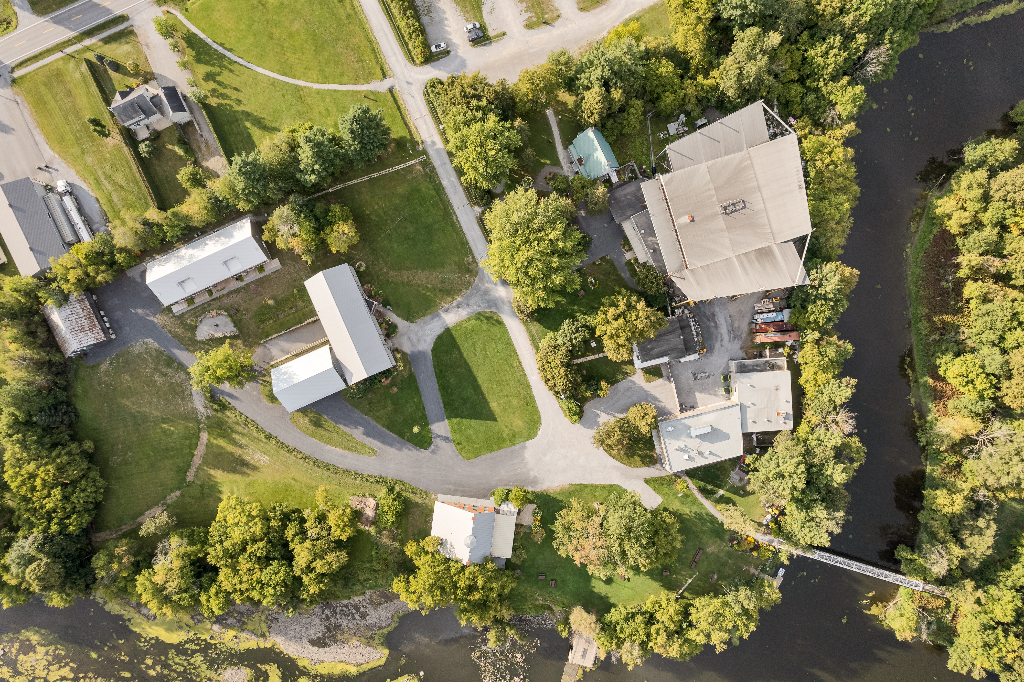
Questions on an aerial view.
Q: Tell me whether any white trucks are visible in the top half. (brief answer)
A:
Yes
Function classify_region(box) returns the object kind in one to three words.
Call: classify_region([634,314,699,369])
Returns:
shed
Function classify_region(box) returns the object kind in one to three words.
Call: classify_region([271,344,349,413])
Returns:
barn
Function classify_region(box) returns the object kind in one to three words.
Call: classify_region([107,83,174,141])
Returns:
house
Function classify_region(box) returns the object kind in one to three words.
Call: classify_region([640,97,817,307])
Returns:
building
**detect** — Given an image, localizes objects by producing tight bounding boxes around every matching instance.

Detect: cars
[431,42,447,52]
[466,31,484,42]
[463,22,480,33]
